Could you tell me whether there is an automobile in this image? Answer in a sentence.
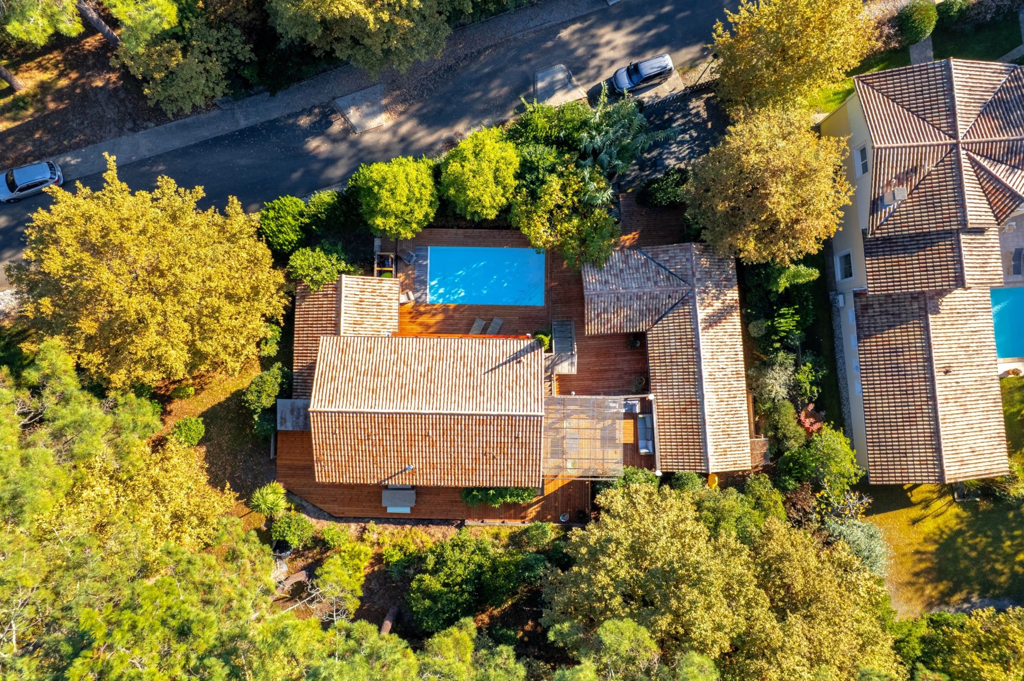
Yes, an automobile can be made out from above.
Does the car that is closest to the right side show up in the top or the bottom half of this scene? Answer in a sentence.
The car that is closest to the right side sits in the top half of the picture.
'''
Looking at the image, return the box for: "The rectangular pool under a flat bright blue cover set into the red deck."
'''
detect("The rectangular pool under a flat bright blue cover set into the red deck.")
[415,246,545,305]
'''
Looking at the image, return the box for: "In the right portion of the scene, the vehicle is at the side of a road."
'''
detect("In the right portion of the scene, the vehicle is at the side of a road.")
[611,50,677,96]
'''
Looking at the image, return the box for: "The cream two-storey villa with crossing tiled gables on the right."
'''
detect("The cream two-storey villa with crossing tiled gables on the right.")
[822,58,1024,485]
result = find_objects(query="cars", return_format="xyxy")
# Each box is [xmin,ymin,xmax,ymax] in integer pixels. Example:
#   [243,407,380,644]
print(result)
[0,160,62,200]
[611,50,677,96]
